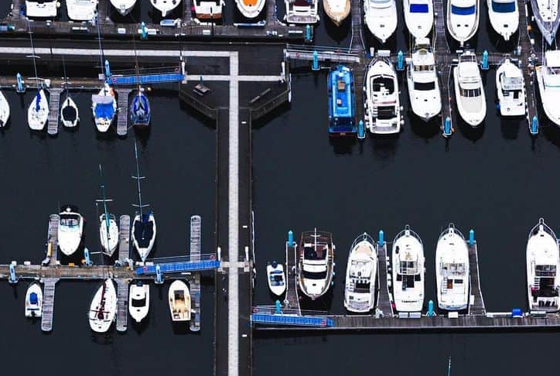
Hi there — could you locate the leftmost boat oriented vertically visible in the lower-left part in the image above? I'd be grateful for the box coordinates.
[24,282,43,318]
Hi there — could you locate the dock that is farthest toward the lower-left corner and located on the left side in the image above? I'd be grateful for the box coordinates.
[36,277,62,334]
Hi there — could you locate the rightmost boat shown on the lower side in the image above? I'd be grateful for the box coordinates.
[525,222,560,314]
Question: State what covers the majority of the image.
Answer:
water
